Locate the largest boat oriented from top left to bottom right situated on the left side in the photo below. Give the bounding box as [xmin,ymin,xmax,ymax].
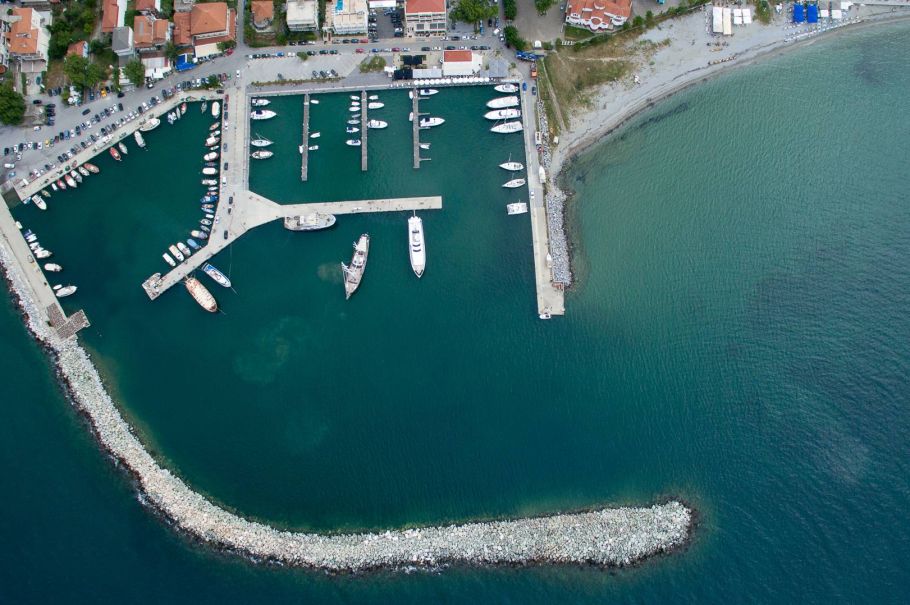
[182,275,218,314]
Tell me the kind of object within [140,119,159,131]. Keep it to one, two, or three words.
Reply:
boat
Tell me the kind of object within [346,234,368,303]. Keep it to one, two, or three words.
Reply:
ship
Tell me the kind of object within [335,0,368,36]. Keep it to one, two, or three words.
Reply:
building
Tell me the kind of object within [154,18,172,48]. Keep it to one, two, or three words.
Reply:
house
